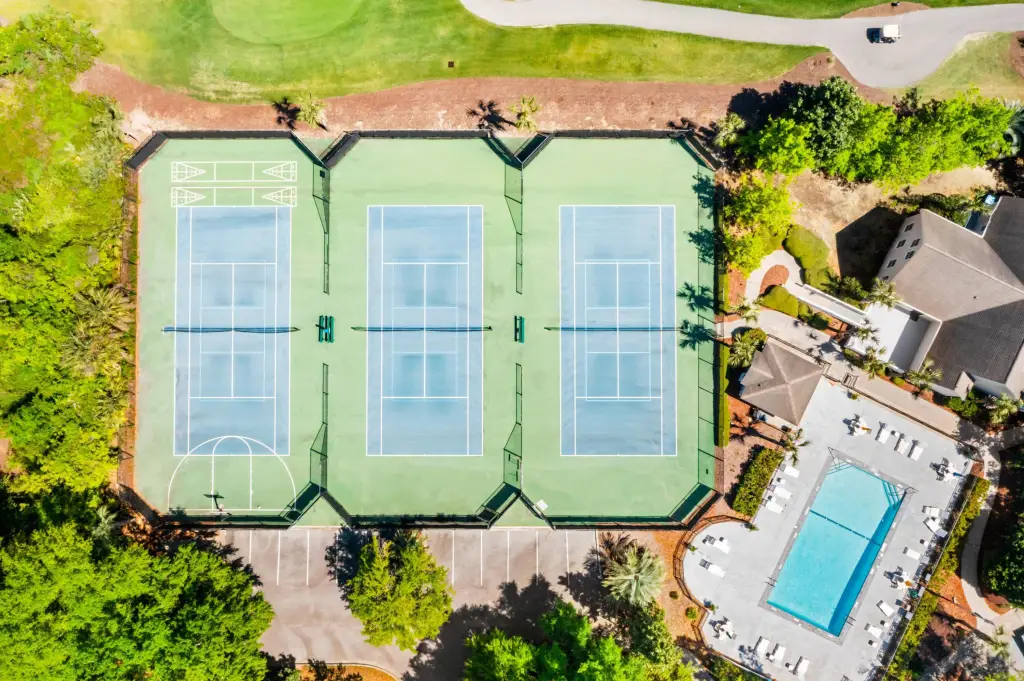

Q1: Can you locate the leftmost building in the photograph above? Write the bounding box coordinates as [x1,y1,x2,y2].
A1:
[729,343,825,427]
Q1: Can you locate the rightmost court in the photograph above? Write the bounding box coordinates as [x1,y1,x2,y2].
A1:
[521,138,715,526]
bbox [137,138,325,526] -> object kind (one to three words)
tennis court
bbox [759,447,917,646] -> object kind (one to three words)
swimming pool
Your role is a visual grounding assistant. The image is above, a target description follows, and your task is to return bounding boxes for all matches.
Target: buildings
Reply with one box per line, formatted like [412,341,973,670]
[729,343,825,427]
[868,195,1024,402]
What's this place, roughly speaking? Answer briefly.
sports ground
